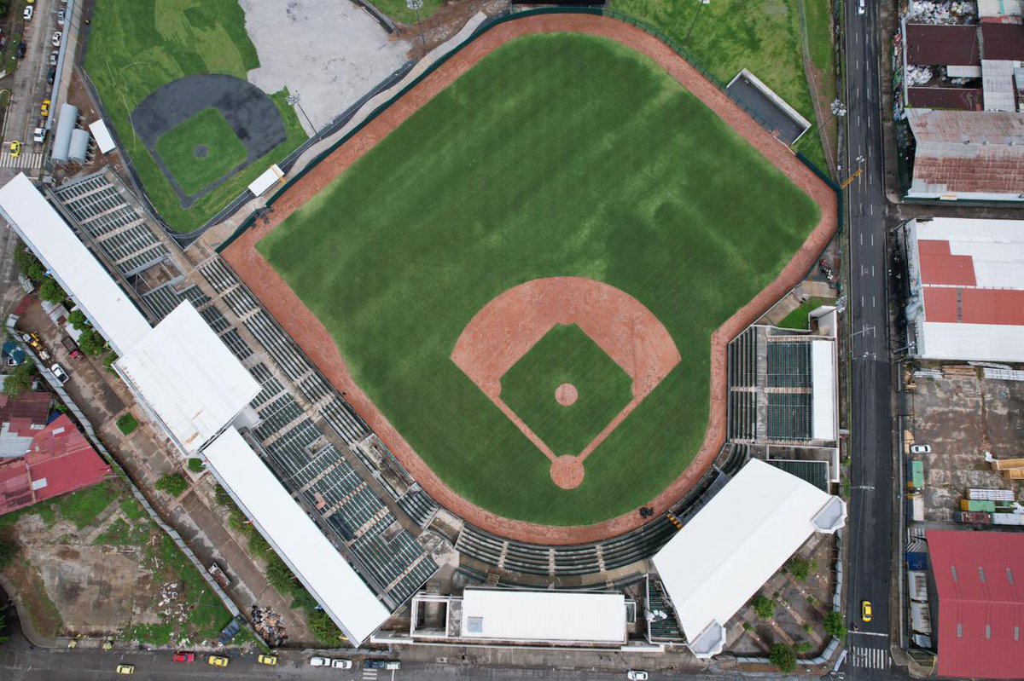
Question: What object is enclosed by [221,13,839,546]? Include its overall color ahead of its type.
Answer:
green baseball field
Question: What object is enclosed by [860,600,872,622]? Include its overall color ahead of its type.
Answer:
yellow vehicle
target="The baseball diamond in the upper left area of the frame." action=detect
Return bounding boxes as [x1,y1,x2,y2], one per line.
[81,0,414,239]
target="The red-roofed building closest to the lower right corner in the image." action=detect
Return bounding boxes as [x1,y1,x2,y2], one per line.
[915,524,1024,680]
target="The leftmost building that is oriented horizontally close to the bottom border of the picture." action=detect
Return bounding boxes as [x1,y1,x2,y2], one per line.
[407,587,630,652]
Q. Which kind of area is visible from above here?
sports ground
